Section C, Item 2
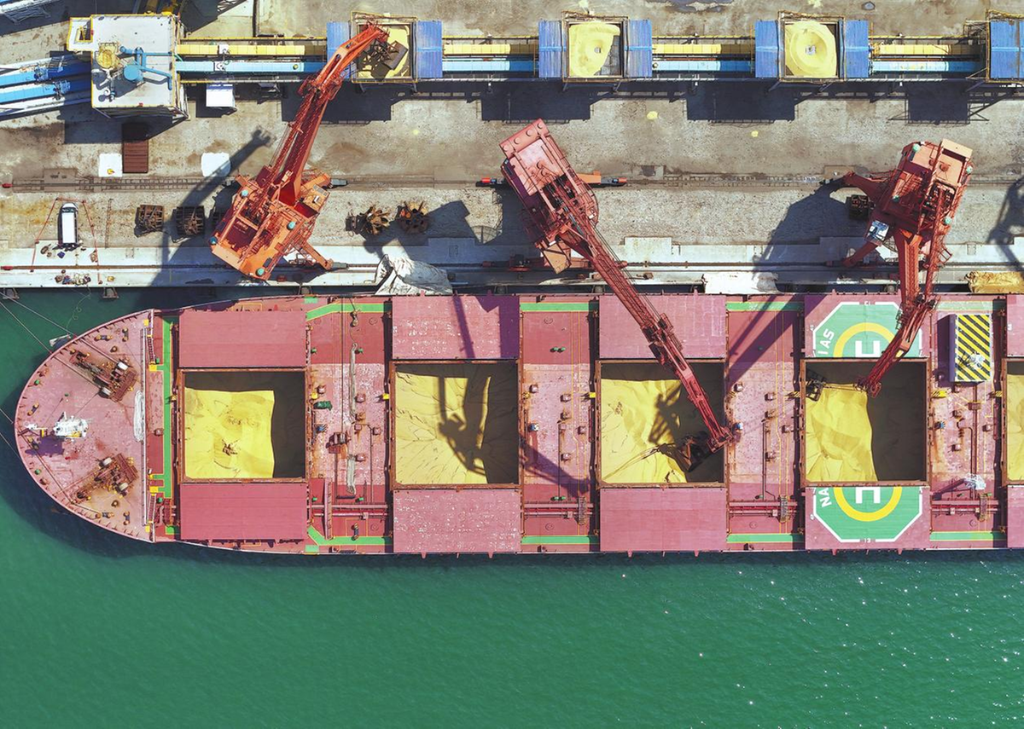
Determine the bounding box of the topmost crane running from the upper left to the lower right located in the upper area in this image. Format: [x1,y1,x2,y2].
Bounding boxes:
[477,123,740,452]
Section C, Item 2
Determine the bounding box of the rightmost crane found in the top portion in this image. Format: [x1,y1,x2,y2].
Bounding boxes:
[829,139,977,394]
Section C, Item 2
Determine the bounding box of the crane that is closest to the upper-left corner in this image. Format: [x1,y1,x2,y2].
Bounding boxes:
[210,20,383,284]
